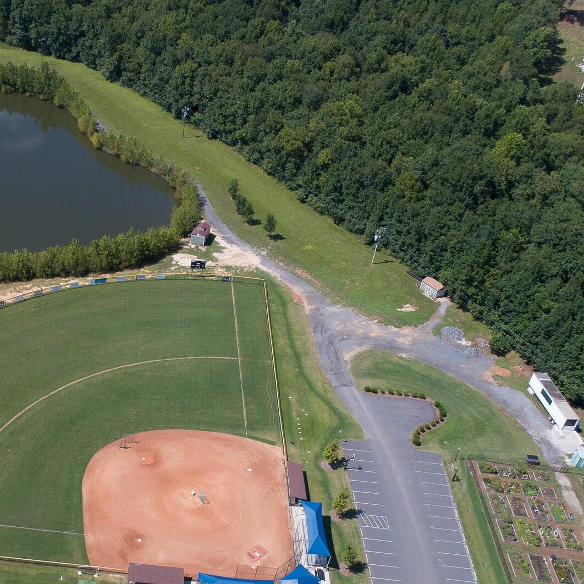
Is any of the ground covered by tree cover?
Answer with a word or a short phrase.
Yes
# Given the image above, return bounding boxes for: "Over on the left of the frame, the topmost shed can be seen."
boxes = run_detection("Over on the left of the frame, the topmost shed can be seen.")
[190,221,211,245]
